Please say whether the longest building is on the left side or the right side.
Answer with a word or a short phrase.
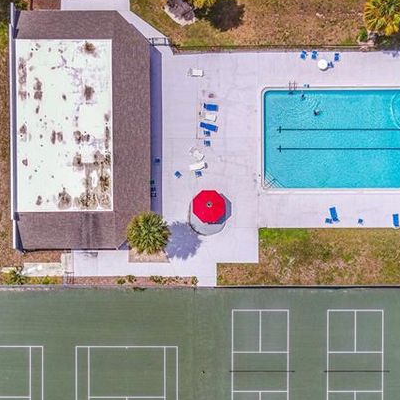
left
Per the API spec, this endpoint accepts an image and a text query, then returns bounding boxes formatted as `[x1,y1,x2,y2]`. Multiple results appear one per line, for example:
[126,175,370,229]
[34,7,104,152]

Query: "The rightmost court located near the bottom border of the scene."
[324,309,391,400]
